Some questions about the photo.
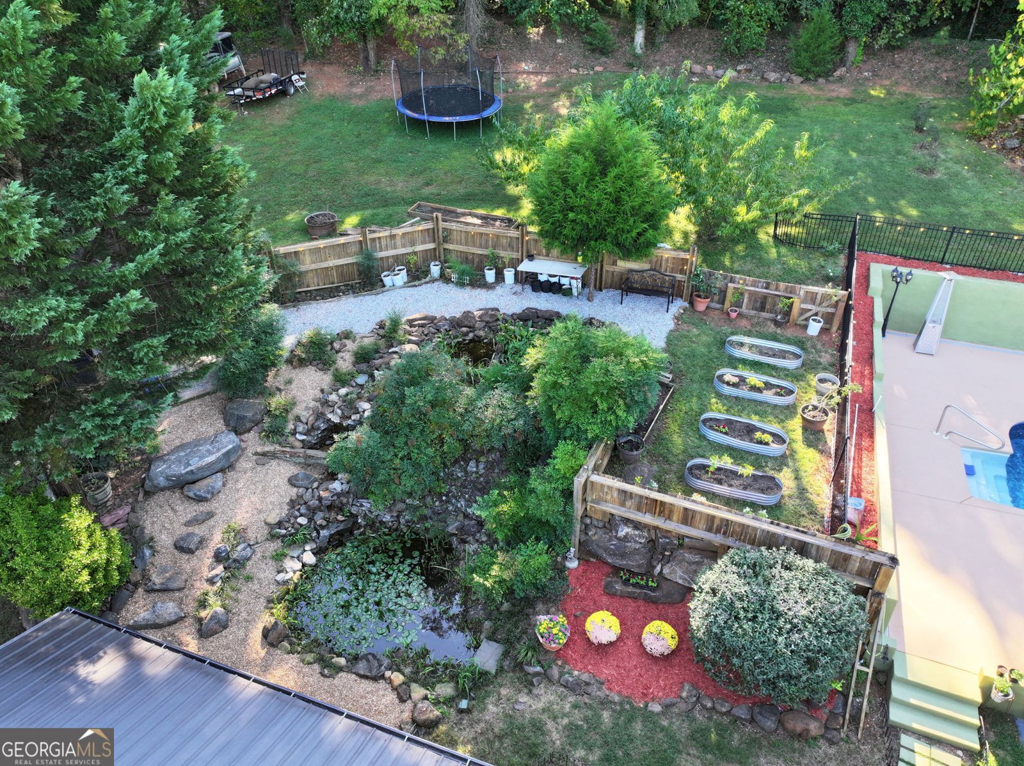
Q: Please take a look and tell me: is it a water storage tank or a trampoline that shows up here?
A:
trampoline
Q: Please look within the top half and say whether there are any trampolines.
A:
Yes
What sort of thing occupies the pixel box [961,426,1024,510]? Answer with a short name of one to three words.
swimming pool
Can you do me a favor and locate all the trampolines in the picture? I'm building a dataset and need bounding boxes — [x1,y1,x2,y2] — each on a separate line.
[391,42,504,142]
